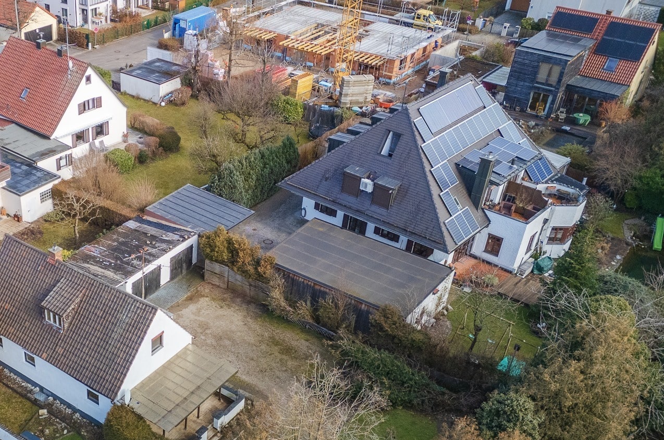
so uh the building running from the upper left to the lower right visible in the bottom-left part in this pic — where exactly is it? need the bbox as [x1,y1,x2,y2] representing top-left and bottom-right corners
[0,230,257,440]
